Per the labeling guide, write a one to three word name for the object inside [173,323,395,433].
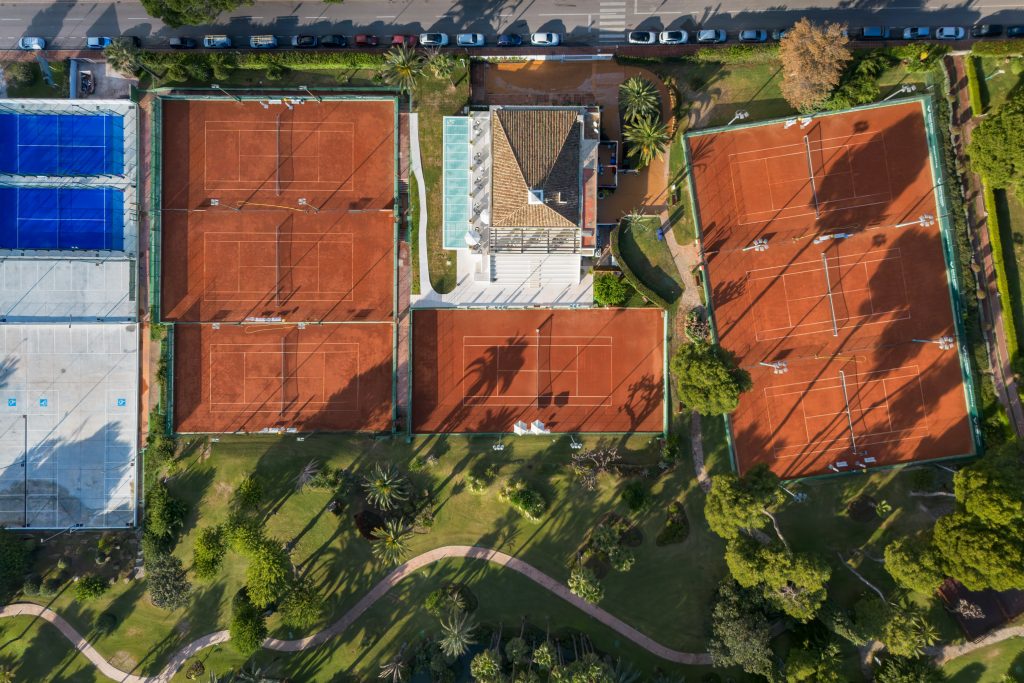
tennis court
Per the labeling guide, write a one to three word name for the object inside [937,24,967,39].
car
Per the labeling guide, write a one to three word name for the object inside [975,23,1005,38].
car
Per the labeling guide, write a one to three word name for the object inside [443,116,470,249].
swimming pool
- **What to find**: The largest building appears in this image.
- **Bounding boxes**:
[488,105,599,259]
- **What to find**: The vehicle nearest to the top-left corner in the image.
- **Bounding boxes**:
[16,35,44,50]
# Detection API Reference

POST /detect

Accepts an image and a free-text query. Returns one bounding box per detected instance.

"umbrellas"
[477,208,488,224]
[515,421,526,433]
[533,421,544,433]
[465,231,482,248]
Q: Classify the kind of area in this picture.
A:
sports ground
